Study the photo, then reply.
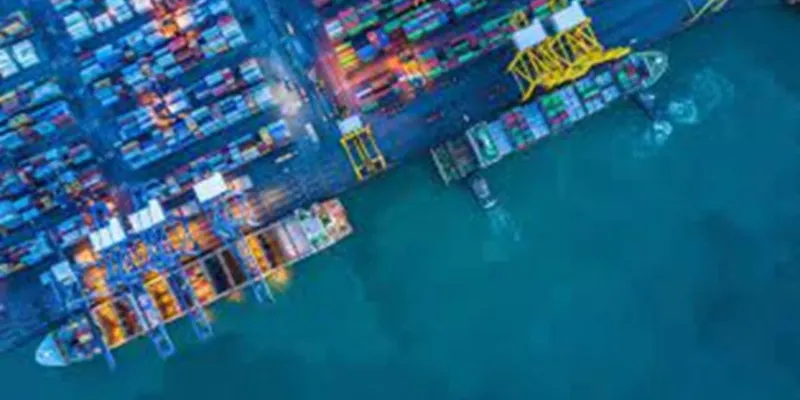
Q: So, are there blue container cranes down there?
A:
Yes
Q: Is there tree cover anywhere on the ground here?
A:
No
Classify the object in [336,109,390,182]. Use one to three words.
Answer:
container crane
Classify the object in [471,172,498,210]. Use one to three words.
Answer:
boat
